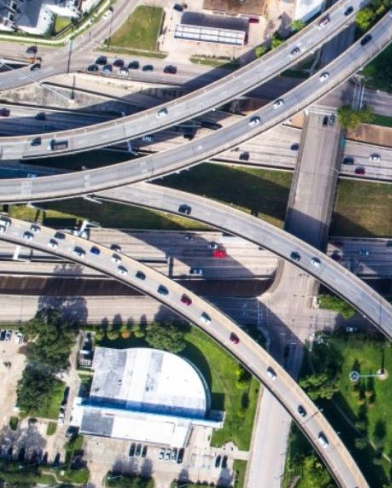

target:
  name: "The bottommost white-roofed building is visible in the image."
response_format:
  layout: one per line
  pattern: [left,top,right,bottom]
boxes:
[75,347,236,446]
